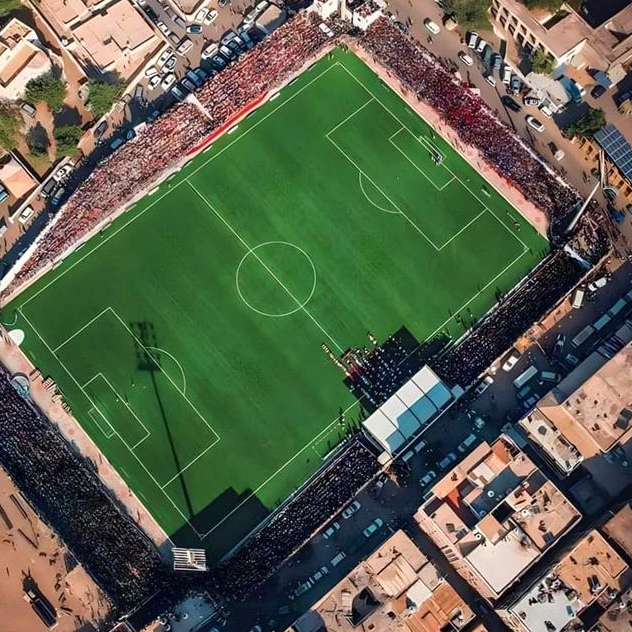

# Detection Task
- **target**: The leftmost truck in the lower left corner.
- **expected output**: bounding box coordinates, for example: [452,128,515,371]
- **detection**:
[26,585,56,623]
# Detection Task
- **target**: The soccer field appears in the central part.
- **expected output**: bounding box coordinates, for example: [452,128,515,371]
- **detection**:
[0,42,554,562]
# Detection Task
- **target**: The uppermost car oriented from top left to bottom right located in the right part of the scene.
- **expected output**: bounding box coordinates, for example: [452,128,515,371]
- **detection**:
[424,18,442,34]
